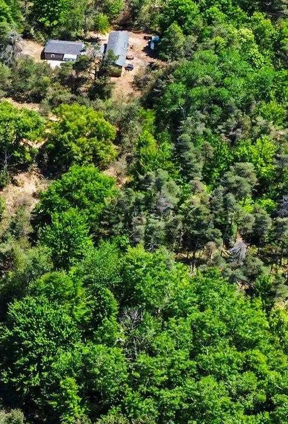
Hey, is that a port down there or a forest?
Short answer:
forest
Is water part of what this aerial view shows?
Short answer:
No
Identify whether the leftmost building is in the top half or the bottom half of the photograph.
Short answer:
top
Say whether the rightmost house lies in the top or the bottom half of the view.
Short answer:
top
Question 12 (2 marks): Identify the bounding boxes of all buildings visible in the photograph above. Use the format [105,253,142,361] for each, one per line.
[96,33,130,79]
[44,40,84,62]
